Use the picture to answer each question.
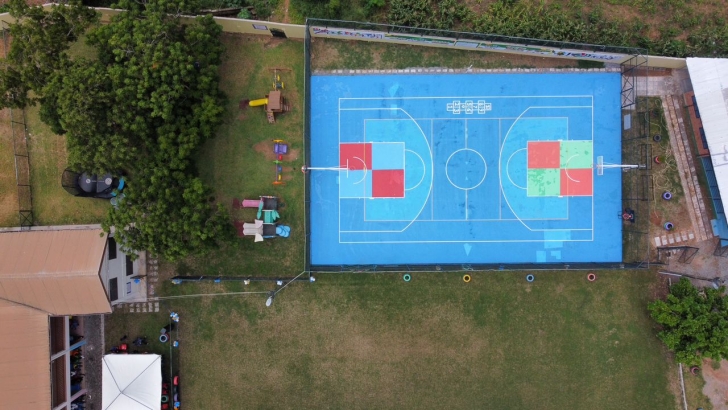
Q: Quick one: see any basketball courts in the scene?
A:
Yes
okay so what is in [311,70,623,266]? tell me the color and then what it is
blue basketball court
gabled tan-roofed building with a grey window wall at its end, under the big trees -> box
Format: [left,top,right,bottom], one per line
[0,229,138,315]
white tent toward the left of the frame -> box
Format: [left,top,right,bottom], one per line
[102,346,173,410]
